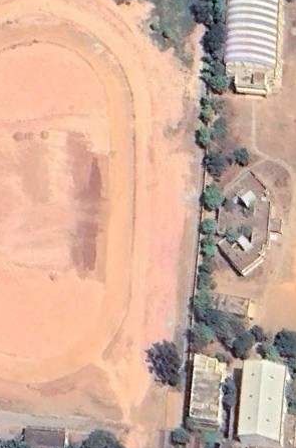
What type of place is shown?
sports ground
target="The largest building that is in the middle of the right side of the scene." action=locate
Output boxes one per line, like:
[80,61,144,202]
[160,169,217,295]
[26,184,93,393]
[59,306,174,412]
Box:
[218,171,270,277]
